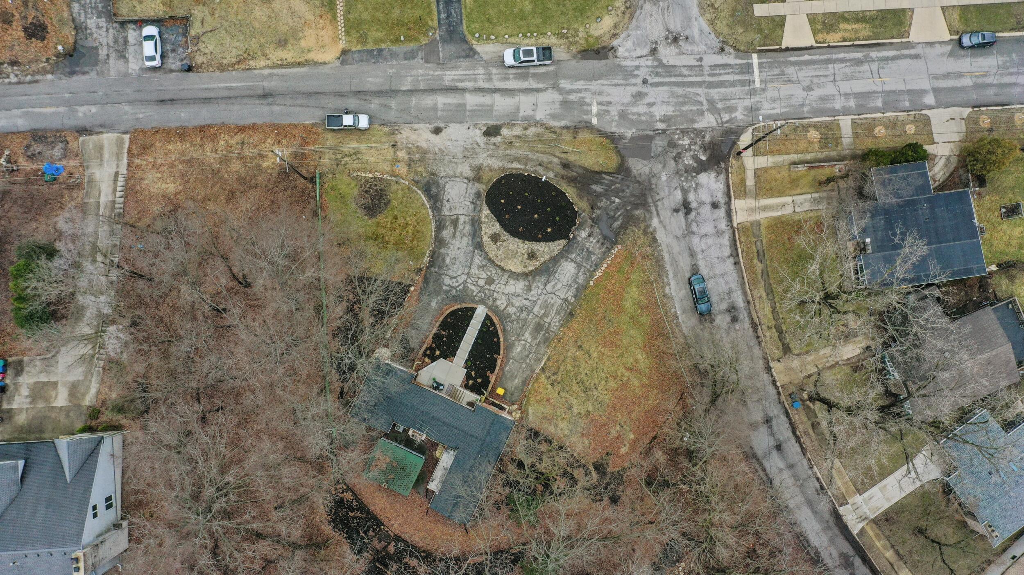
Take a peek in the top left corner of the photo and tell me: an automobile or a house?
automobile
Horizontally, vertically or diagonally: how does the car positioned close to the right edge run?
horizontally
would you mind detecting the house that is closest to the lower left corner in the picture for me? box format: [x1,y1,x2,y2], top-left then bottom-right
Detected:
[0,435,129,575]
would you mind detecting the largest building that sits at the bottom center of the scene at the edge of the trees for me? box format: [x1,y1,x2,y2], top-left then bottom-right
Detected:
[349,360,515,525]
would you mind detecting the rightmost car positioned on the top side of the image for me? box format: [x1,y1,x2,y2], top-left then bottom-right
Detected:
[957,29,999,50]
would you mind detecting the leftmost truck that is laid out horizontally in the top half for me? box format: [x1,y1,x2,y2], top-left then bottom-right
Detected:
[324,110,371,131]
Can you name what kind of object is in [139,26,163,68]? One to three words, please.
car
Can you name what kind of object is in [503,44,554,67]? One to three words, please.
truck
